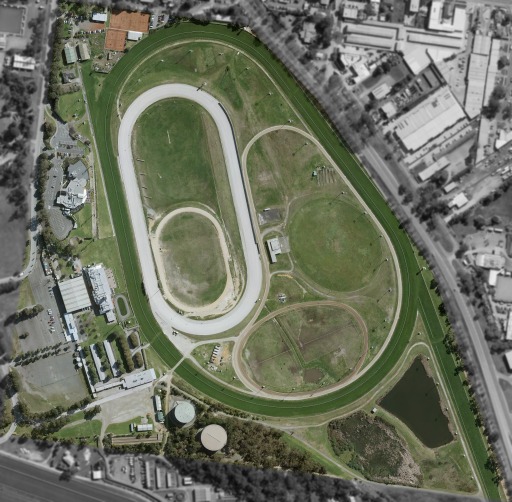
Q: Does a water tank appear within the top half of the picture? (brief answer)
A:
No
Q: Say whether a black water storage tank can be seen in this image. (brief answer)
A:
No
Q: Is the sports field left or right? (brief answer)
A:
right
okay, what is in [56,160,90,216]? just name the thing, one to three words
building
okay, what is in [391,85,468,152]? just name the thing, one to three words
building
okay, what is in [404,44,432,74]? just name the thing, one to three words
shed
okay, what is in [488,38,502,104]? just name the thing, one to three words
shed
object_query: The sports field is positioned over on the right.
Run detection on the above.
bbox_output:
[288,196,384,291]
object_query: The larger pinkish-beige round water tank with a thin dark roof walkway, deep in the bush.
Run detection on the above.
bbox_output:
[200,424,228,452]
